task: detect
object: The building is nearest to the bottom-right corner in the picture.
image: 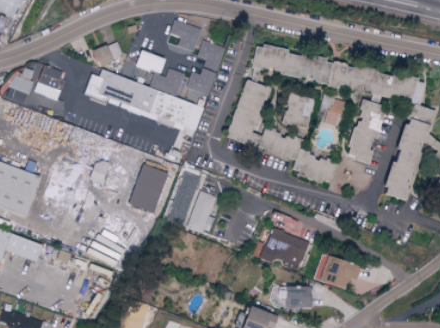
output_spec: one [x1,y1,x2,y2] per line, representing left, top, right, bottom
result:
[315,254,362,289]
